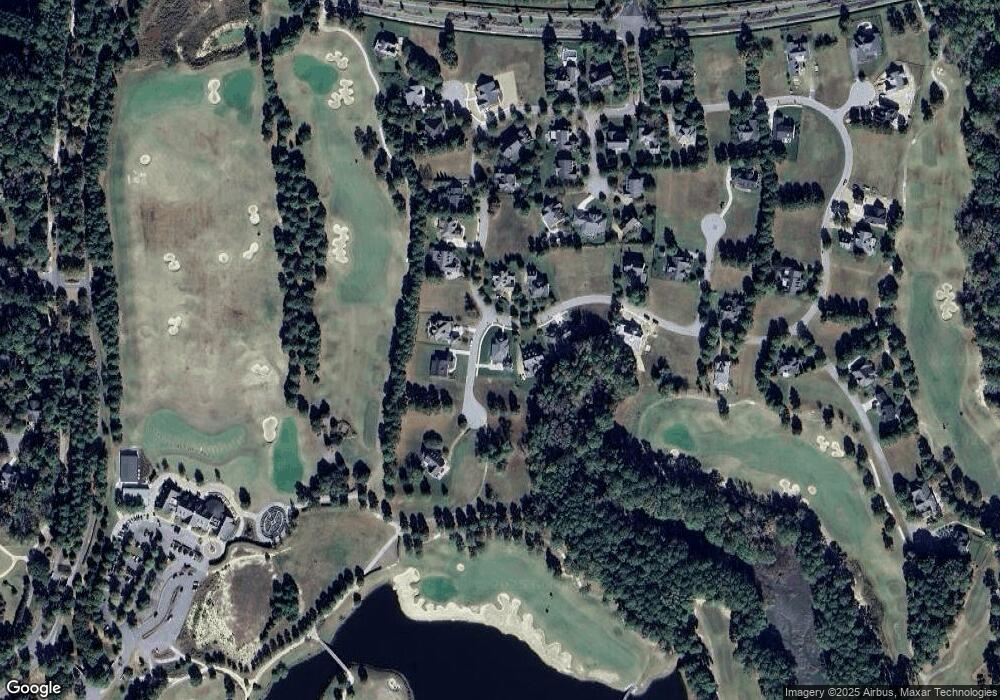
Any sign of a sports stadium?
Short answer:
No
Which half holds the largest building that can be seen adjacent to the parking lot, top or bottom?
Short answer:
bottom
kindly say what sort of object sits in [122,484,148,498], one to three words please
shed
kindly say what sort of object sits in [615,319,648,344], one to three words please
house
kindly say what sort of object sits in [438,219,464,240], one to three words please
house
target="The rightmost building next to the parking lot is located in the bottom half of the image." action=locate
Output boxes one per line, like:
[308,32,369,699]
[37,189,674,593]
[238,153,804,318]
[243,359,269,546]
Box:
[159,486,236,545]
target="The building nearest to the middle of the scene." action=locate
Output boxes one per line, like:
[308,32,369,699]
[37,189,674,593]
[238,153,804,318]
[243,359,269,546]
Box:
[490,332,510,362]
